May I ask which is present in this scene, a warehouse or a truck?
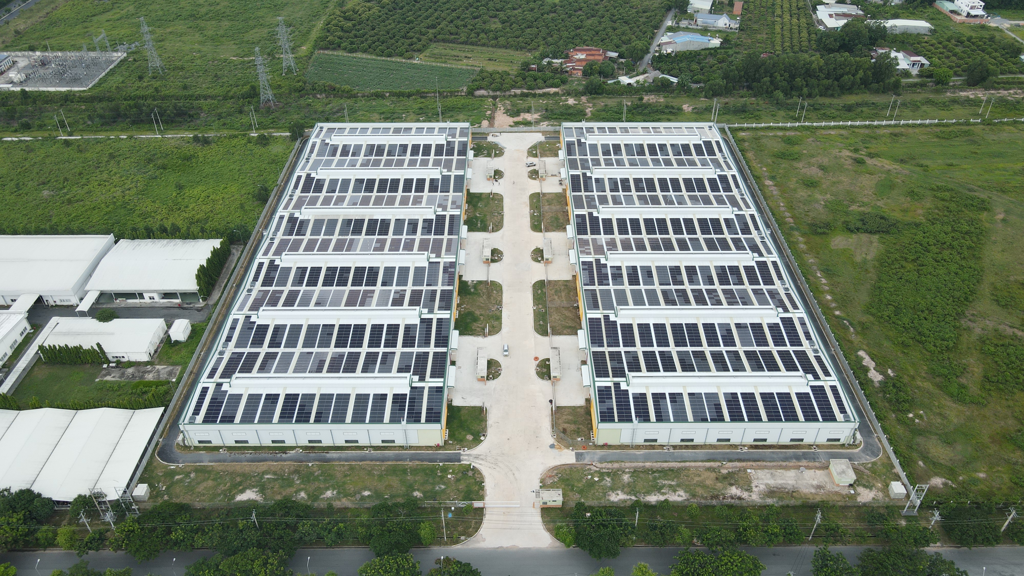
warehouse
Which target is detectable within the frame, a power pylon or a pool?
power pylon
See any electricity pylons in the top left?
Yes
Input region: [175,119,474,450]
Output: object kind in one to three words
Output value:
warehouse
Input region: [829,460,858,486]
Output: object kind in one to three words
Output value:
building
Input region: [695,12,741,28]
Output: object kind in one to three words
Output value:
house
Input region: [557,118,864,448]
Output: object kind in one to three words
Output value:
warehouse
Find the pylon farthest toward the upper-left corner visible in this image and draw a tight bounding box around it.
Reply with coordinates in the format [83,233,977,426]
[137,18,167,77]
